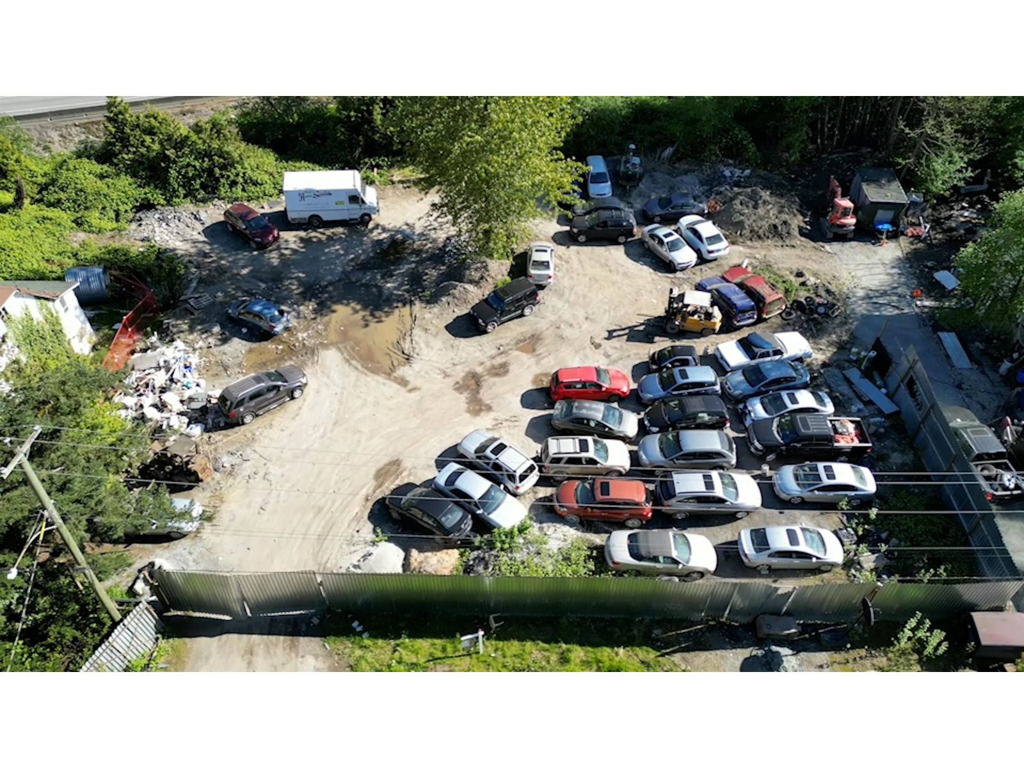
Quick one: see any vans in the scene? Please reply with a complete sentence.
Yes, this view includes a van.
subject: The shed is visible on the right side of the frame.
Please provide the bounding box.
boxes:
[843,159,923,232]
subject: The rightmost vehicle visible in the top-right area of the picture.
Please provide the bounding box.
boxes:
[819,169,856,234]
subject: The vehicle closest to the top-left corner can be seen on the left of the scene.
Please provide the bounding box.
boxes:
[222,204,279,250]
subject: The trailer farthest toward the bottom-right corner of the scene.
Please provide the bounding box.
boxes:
[964,611,1024,667]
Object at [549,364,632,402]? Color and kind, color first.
red car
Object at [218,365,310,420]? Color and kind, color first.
gray car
